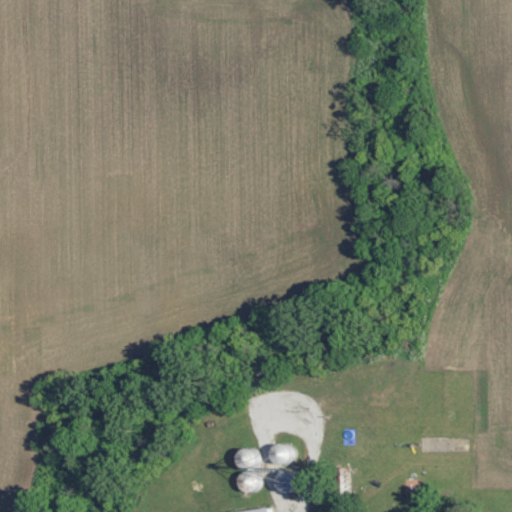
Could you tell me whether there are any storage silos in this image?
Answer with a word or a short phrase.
Yes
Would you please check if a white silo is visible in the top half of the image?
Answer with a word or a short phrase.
No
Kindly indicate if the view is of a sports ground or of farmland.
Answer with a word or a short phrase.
farmland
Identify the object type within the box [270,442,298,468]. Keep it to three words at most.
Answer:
silo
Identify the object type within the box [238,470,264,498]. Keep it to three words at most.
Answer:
silo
